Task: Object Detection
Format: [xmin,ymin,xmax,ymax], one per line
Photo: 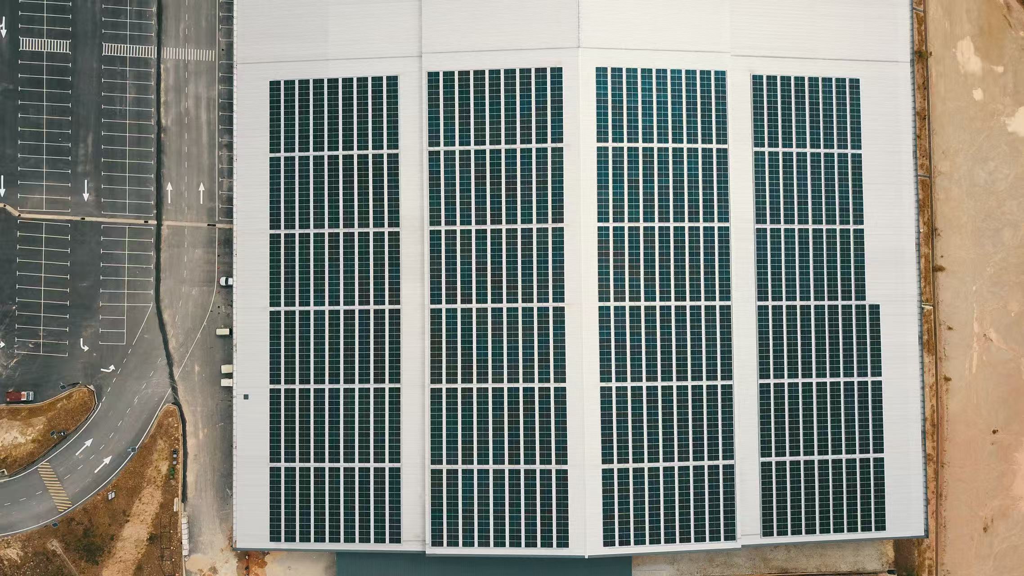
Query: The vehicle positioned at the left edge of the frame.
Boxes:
[3,391,36,403]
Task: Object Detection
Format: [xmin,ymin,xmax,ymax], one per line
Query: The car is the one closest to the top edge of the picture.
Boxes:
[218,275,233,287]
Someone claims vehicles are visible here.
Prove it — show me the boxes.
[222,365,233,375]
[222,379,233,388]
[3,391,36,403]
[216,327,233,337]
[218,275,233,287]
